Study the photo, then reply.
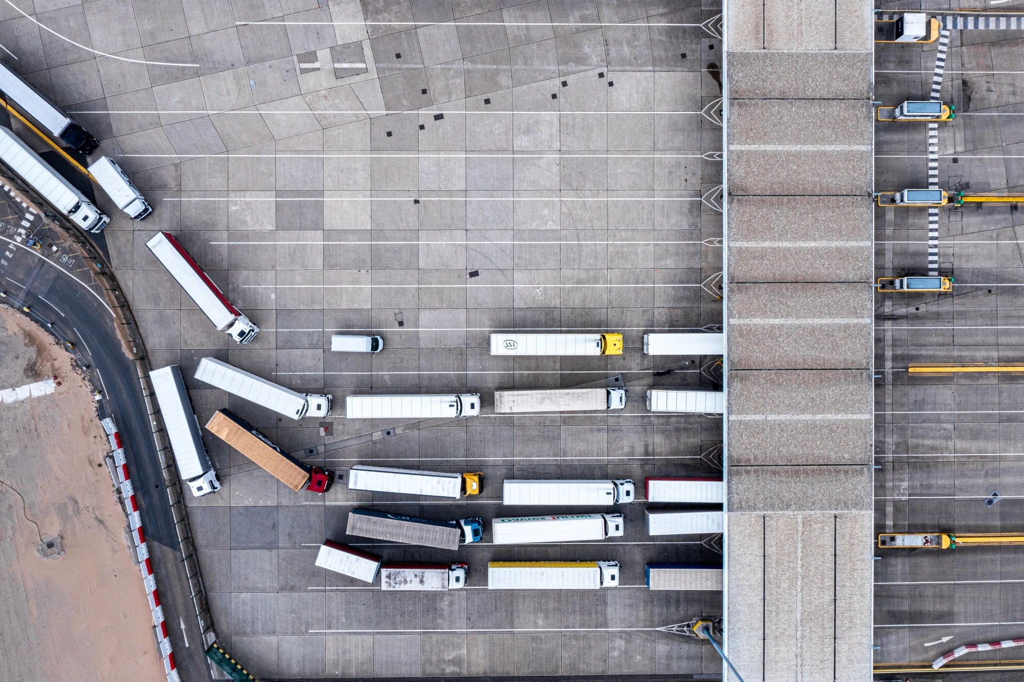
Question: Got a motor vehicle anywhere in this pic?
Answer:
Yes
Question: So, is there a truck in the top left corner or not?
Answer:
Yes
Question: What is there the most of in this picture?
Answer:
paved ground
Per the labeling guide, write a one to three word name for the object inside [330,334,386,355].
vehicle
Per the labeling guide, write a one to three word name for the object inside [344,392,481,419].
truck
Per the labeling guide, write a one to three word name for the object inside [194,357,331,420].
truck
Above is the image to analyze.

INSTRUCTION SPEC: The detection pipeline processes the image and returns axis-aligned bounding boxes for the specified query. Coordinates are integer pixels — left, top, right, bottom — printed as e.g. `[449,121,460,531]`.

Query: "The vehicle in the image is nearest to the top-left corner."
[0,59,98,155]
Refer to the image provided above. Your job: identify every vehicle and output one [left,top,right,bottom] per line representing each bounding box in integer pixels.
[647,389,723,413]
[495,386,630,413]
[344,392,481,419]
[205,408,335,494]
[150,366,221,502]
[330,334,386,355]
[87,155,158,227]
[0,59,98,155]
[645,561,723,590]
[644,476,723,502]
[0,125,110,232]
[194,357,331,420]
[488,560,623,589]
[644,334,723,355]
[502,479,637,505]
[645,506,723,536]
[492,513,627,545]
[348,465,485,500]
[146,232,260,345]
[315,539,471,591]
[489,333,624,357]
[347,508,485,550]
